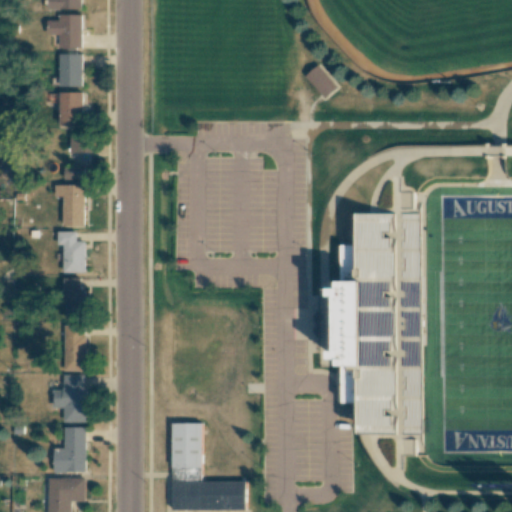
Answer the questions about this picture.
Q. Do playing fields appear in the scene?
Yes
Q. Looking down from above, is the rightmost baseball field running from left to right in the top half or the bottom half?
top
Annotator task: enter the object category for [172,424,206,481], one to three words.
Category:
building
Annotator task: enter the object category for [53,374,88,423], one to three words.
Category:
house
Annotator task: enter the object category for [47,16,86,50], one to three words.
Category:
house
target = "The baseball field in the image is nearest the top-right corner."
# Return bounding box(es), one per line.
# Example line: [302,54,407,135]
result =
[307,0,512,80]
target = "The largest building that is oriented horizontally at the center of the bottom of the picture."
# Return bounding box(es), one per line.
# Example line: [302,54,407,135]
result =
[172,481,250,510]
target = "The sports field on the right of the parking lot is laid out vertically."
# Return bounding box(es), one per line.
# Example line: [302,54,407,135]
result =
[426,187,512,468]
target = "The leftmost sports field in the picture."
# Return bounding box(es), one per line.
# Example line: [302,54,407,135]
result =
[156,0,286,112]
